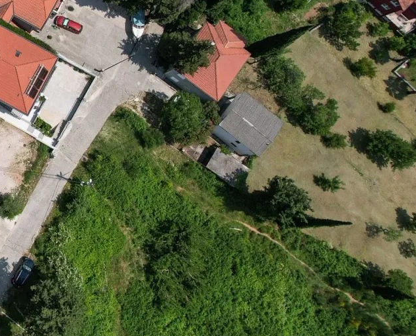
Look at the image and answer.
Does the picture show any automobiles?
Yes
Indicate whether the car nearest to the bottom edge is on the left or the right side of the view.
left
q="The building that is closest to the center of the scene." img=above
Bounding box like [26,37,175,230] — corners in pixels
[199,148,250,188]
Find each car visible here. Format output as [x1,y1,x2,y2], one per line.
[53,15,83,35]
[10,256,33,287]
